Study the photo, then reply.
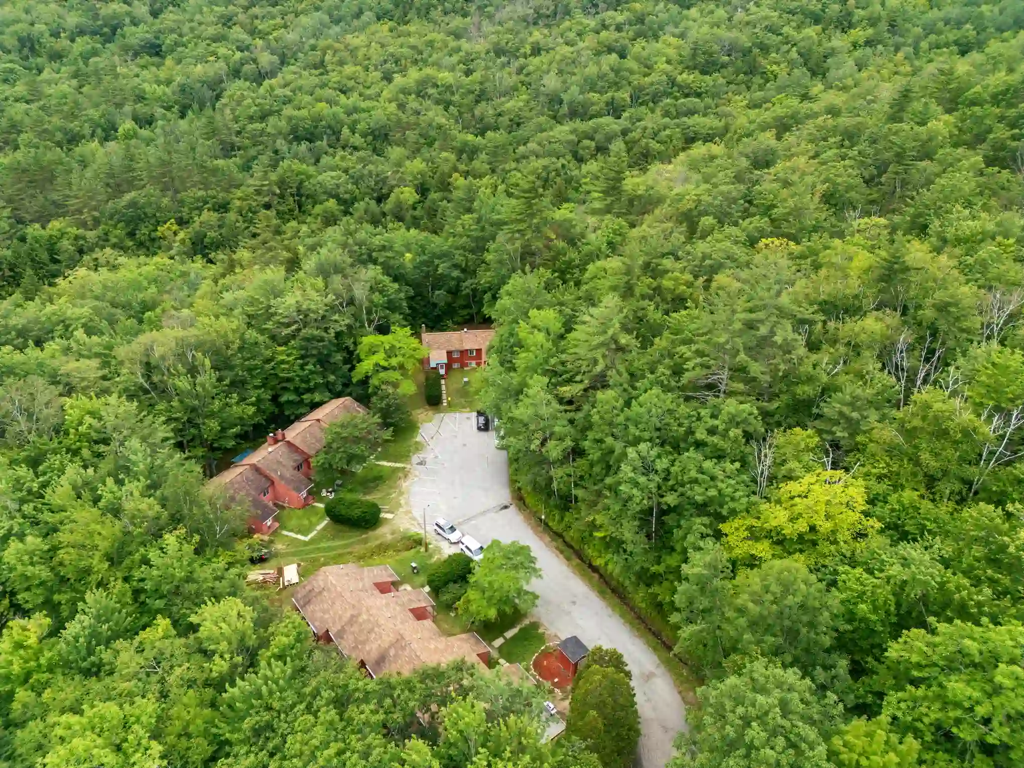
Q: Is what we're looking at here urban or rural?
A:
rural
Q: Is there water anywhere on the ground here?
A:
No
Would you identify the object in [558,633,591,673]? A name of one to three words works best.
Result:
shed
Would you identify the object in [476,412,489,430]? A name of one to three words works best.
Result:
vehicle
